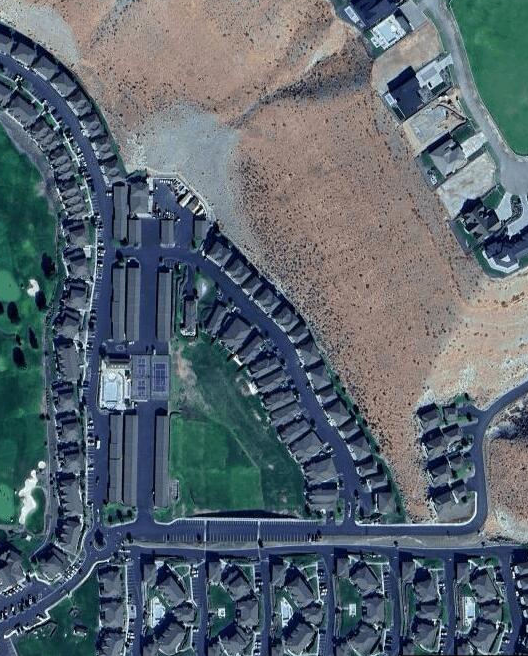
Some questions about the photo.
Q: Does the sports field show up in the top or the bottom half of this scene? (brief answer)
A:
bottom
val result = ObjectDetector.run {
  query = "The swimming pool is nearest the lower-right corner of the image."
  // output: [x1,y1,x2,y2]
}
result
[462,596,474,628]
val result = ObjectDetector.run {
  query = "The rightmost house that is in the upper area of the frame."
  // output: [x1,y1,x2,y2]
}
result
[485,222,528,270]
